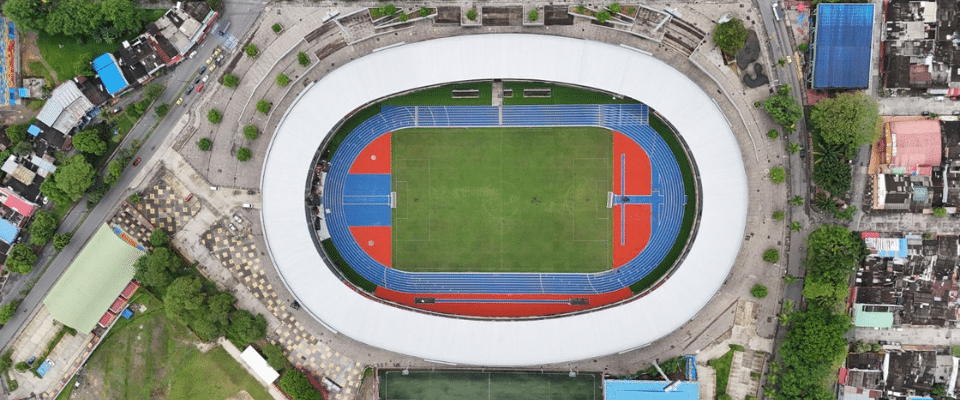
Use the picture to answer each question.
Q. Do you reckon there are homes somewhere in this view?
Yes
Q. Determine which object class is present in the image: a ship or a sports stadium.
sports stadium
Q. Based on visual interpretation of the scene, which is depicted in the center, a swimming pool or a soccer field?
soccer field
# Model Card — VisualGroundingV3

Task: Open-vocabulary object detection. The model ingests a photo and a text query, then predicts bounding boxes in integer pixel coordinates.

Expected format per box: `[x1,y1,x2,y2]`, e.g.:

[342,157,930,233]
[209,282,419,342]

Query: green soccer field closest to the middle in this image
[392,128,613,271]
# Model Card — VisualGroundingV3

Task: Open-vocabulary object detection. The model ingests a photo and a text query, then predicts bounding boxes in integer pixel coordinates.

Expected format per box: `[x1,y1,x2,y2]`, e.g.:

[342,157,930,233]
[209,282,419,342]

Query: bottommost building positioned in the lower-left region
[239,345,280,385]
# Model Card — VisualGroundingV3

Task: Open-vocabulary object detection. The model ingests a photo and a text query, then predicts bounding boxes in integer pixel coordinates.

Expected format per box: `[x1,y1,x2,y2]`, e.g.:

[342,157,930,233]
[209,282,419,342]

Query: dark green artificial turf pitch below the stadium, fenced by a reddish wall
[377,368,605,400]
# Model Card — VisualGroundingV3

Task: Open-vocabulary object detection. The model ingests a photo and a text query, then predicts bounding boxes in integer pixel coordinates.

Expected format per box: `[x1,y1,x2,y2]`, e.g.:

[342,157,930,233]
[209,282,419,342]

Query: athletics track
[323,104,682,317]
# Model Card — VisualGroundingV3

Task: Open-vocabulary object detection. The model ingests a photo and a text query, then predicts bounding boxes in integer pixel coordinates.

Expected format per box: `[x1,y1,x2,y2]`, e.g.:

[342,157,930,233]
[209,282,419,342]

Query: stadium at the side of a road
[260,34,748,367]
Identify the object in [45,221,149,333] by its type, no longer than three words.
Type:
building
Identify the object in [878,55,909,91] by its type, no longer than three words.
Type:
house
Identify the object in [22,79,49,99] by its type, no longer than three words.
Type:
building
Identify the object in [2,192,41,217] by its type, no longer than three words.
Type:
house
